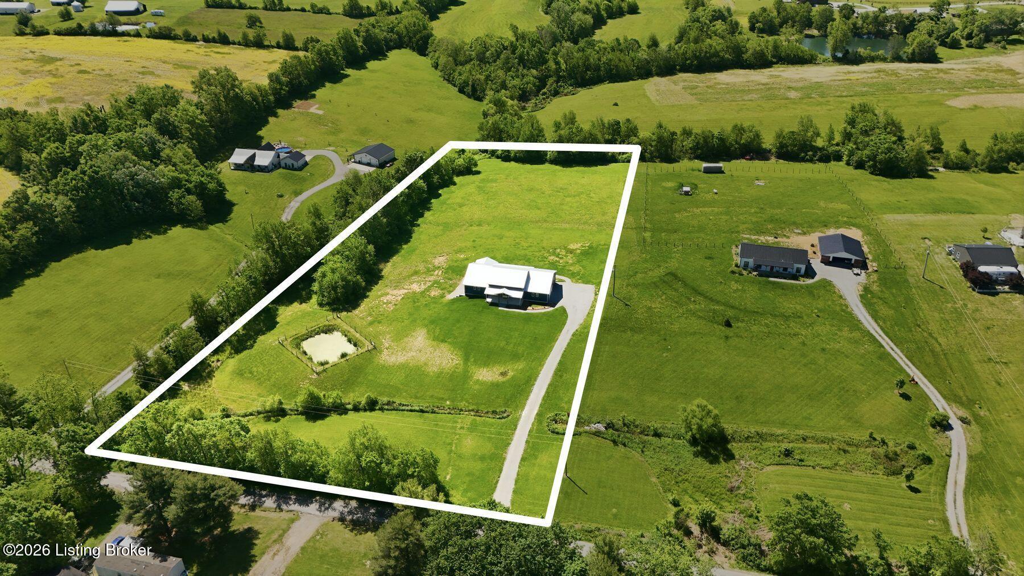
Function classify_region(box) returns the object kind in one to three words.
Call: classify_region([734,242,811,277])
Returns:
house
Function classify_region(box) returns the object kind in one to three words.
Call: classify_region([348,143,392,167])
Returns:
shed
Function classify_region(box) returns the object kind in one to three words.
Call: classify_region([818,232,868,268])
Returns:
building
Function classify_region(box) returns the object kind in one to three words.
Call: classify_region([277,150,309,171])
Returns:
building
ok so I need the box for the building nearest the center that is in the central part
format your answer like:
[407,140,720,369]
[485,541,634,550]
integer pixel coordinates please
[463,252,556,306]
